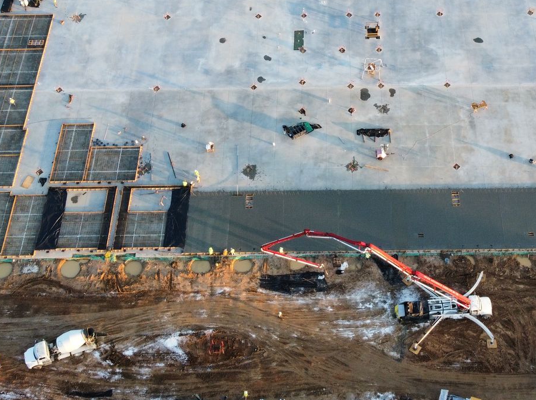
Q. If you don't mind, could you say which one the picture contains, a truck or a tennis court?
truck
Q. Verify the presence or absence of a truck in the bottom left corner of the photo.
Yes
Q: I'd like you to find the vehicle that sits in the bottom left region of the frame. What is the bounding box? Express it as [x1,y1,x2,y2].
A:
[21,331,101,370]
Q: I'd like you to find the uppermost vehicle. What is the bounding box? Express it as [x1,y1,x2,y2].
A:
[365,21,379,40]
